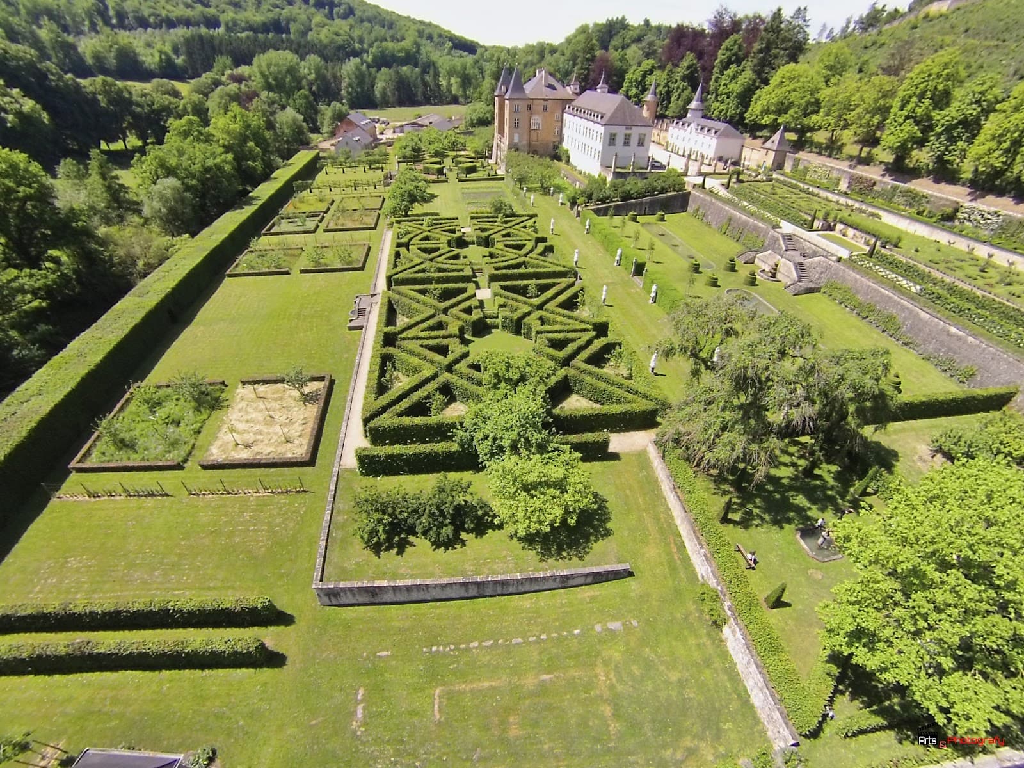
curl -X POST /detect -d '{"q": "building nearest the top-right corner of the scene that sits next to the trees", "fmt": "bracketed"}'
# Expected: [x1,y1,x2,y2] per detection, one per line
[761,127,791,168]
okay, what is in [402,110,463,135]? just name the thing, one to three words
barn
